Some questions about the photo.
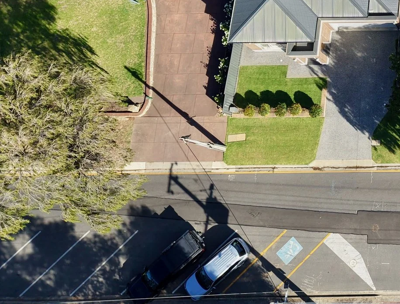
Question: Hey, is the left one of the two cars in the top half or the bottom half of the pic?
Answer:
bottom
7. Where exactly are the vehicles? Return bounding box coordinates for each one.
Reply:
[179,231,246,301]
[129,233,208,304]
